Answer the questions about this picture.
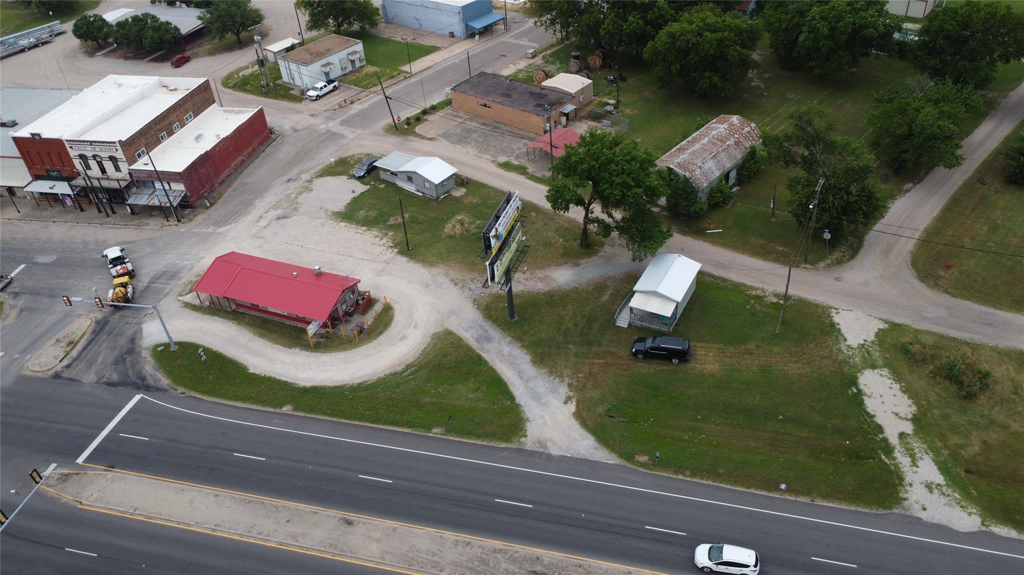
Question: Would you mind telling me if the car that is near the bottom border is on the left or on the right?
right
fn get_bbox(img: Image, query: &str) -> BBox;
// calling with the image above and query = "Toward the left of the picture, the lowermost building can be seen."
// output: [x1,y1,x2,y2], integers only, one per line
[194,250,361,333]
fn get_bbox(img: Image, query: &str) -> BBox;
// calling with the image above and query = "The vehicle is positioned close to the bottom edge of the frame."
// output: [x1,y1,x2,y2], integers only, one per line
[694,544,760,575]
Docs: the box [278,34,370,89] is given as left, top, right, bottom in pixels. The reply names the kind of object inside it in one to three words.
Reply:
building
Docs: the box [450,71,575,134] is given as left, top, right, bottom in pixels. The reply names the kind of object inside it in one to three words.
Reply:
building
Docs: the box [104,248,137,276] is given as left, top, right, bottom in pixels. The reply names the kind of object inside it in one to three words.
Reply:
truck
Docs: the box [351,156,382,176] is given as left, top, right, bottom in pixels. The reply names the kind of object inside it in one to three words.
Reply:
car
